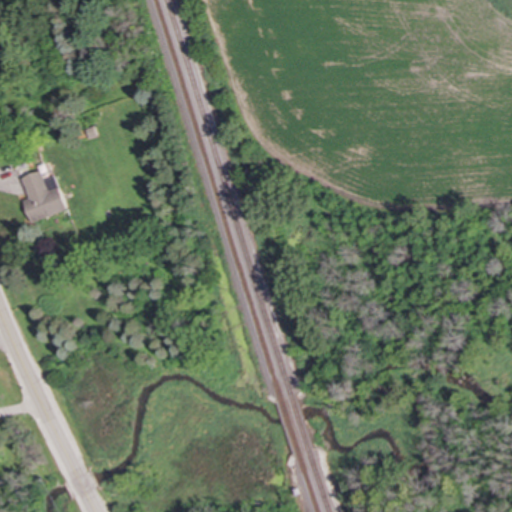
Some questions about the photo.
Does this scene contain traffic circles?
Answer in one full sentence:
No, I find no traffic circle anywhere in the image.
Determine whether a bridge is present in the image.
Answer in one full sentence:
Yes, a bridge appears in the view.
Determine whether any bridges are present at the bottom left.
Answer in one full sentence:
Yes, a bridge shows up at the bottom left.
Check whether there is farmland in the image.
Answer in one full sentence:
Yes, there is farmland in the image.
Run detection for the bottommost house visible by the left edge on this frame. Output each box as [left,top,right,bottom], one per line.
[20,172,66,223]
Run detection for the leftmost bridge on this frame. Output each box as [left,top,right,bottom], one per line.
[60,462,98,507]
